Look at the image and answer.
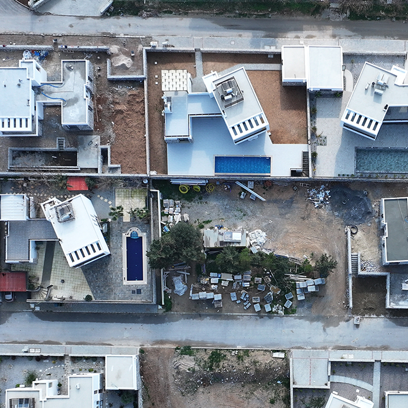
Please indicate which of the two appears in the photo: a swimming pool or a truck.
swimming pool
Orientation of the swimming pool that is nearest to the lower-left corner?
up and down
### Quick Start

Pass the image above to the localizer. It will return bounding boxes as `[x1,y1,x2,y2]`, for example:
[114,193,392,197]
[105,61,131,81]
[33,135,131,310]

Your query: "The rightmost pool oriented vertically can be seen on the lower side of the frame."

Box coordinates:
[123,226,147,284]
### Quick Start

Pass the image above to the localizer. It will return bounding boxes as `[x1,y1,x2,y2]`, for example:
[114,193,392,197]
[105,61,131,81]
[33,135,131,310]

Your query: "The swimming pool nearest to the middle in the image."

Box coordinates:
[214,152,273,175]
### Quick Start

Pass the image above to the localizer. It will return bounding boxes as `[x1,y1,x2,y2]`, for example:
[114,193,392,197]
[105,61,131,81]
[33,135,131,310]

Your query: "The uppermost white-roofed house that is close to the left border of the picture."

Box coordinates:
[0,60,92,139]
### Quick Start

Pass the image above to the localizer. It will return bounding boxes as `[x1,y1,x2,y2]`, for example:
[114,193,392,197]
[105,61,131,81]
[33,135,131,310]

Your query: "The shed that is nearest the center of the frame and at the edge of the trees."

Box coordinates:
[203,228,247,247]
